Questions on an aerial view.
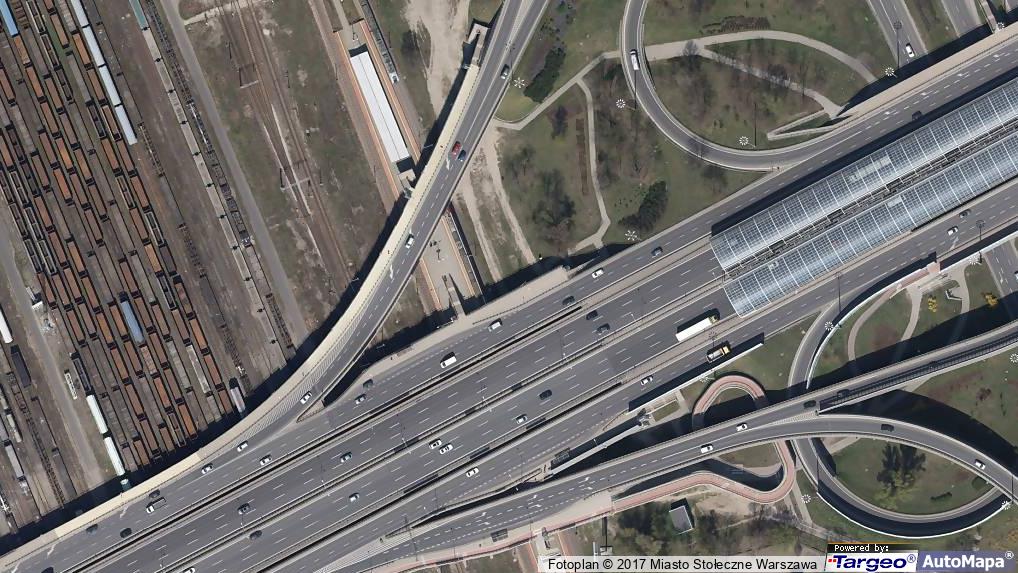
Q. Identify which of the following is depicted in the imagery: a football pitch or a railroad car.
railroad car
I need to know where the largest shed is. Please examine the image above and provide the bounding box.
[668,505,694,533]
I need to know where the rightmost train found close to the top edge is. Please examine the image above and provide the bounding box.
[361,0,401,83]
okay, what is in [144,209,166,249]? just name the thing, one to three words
rail car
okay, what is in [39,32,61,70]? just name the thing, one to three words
rail car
